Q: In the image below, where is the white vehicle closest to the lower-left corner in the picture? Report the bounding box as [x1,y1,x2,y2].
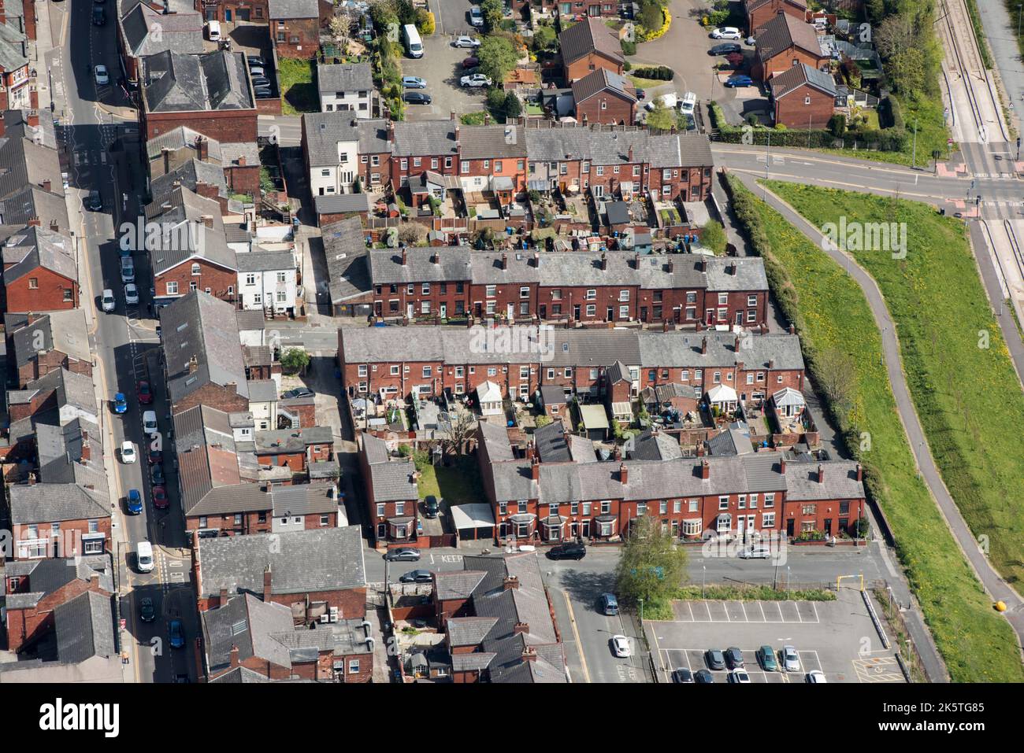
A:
[137,539,155,570]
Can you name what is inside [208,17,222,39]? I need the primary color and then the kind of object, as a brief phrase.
white vehicle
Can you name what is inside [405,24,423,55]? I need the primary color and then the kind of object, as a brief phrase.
white vehicle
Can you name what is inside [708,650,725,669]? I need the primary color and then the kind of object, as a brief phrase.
gray car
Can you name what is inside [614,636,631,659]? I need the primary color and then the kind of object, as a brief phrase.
white car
